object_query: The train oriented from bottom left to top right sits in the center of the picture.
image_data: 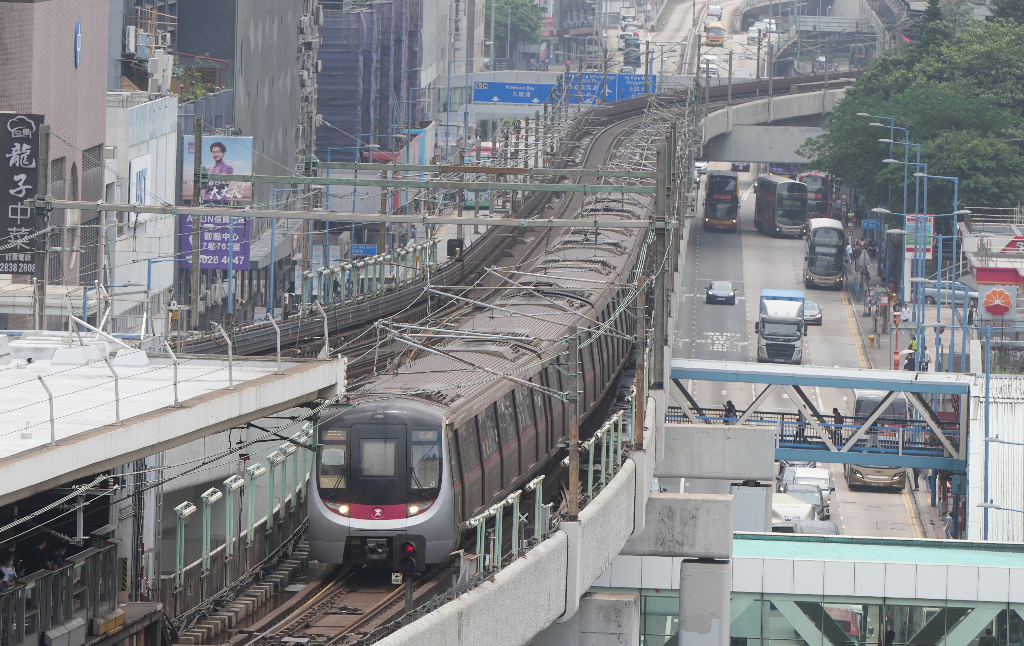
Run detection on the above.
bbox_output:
[307,193,650,569]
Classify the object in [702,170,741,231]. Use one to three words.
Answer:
bus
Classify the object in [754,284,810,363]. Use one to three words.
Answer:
truck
